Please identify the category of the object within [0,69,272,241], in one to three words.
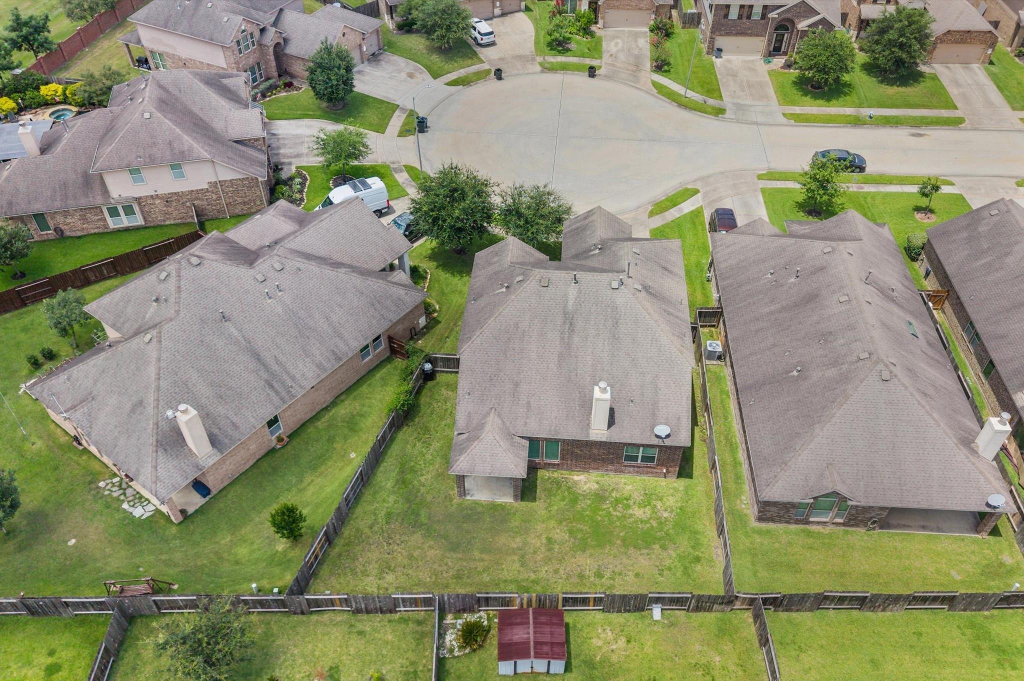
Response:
house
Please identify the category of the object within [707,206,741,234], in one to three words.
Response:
car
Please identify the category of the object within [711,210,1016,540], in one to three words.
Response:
house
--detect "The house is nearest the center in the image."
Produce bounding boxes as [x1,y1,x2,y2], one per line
[448,206,695,502]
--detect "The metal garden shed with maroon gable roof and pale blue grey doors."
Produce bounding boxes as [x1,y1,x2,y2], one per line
[498,608,568,676]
